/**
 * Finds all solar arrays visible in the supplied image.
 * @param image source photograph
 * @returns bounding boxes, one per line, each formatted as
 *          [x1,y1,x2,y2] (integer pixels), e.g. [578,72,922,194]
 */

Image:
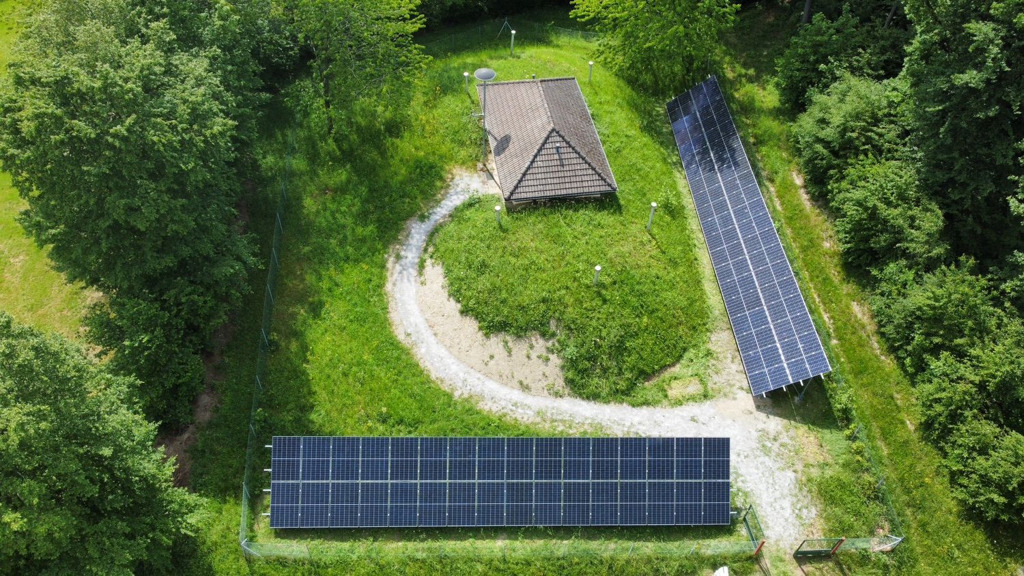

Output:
[261,438,736,527]
[666,77,830,401]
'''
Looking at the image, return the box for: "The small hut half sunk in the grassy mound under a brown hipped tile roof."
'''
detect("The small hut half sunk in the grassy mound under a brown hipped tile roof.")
[477,68,620,211]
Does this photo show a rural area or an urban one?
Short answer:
rural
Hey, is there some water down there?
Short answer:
No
